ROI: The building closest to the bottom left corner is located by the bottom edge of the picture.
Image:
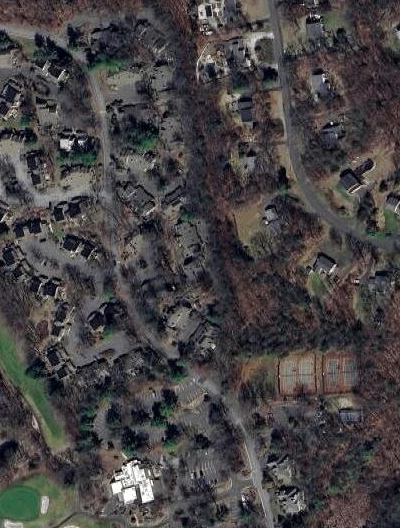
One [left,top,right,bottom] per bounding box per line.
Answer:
[110,460,154,505]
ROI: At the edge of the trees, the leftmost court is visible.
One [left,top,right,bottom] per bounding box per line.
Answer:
[280,352,298,394]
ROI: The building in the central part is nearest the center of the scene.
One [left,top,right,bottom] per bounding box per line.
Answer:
[173,221,204,260]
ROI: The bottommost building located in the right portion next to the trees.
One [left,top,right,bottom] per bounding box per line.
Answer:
[280,489,303,515]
